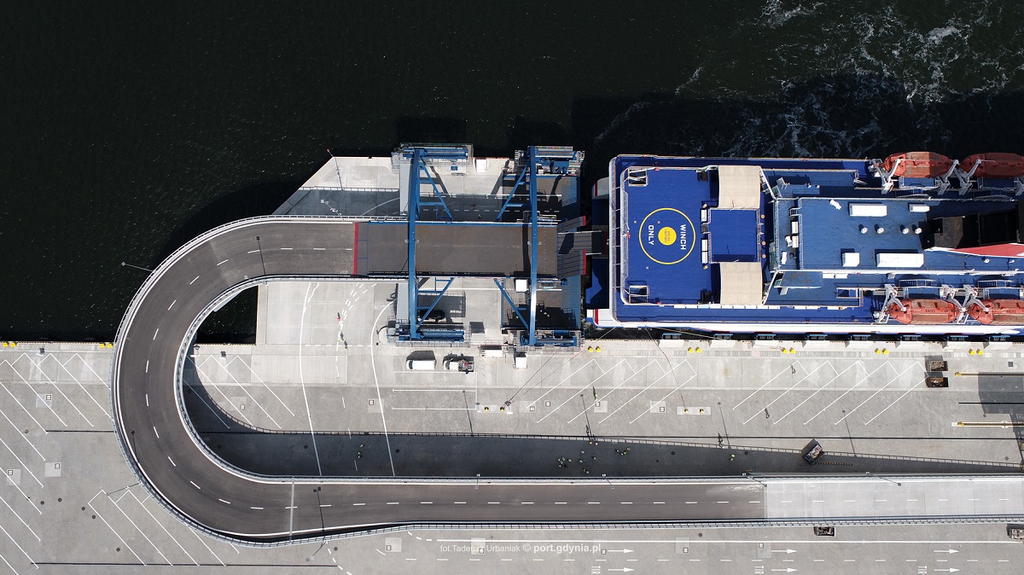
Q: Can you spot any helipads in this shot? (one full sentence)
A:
Yes, looking at the shot, I can spot a helipad.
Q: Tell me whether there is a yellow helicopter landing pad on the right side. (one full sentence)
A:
Yes, looking on the right side, one can make out a yellow helicopter landing pad.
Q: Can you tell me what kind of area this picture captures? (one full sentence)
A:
It's a port.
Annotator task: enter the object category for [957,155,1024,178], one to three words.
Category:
boat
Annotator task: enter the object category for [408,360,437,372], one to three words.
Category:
vehicle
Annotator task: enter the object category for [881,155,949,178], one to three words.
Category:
boat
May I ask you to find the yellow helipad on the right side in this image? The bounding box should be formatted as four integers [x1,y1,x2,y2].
[639,208,695,264]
